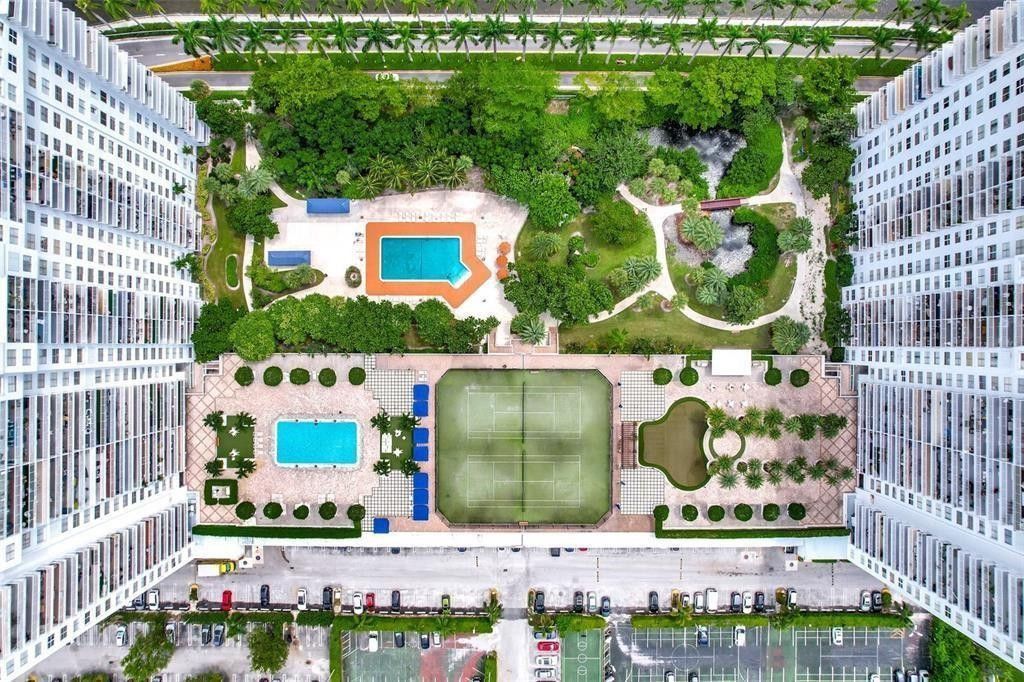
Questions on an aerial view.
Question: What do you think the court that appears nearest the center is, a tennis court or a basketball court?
tennis court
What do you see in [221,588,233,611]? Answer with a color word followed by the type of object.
red vehicle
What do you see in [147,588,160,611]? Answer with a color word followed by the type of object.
white vehicle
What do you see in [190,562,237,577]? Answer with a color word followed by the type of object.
white vehicle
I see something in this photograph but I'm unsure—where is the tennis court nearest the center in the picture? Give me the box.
[434,369,614,529]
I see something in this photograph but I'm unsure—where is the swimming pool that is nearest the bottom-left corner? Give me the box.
[268,413,365,473]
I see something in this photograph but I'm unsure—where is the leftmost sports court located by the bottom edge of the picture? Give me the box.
[561,627,604,682]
